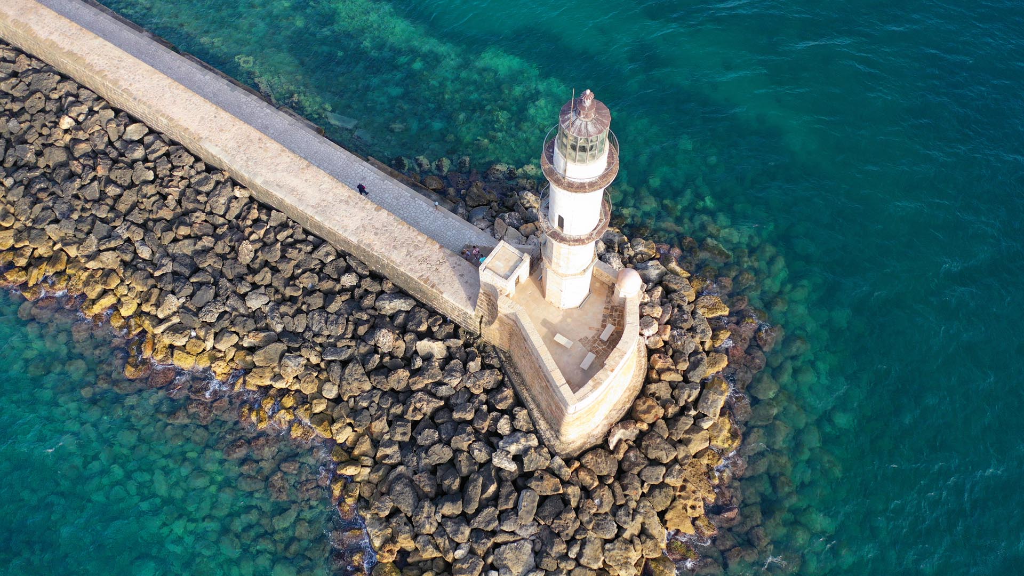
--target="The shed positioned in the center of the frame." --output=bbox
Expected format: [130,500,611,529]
[480,239,529,297]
